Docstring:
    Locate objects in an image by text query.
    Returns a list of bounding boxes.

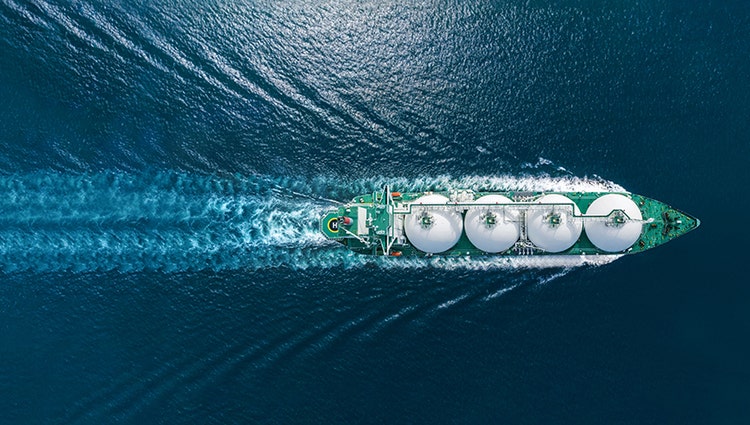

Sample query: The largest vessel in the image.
[319,184,699,259]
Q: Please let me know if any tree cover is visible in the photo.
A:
No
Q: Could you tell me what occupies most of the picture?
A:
water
